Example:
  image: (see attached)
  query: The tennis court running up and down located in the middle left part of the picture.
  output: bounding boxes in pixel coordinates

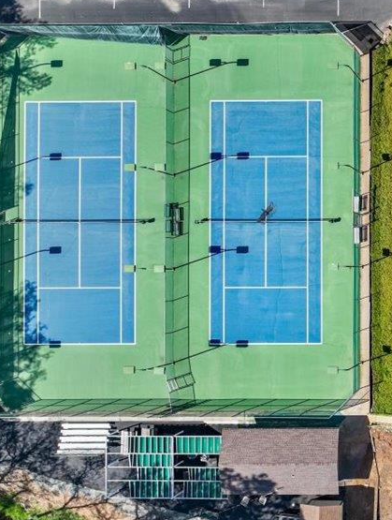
[0,36,173,407]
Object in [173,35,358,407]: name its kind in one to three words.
tennis court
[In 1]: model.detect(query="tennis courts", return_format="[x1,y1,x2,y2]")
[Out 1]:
[173,35,358,407]
[0,36,173,407]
